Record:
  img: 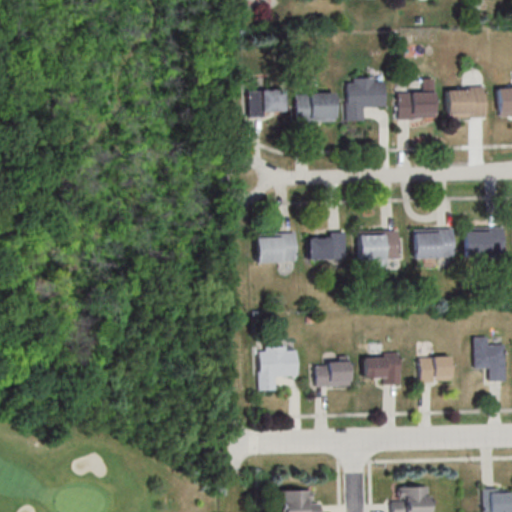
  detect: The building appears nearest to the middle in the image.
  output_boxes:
[259,232,299,264]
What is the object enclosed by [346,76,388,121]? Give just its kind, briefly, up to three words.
house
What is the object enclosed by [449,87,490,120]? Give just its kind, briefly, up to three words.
house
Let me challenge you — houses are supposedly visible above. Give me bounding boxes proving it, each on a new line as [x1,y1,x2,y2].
[390,487,438,512]
[358,231,402,266]
[296,94,340,124]
[500,88,512,120]
[258,346,300,391]
[482,489,512,512]
[397,79,440,120]
[248,90,288,116]
[315,356,355,388]
[473,337,506,380]
[419,356,455,382]
[259,232,299,264]
[282,491,322,512]
[466,227,506,258]
[449,87,490,120]
[413,228,457,260]
[346,76,388,121]
[310,232,346,260]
